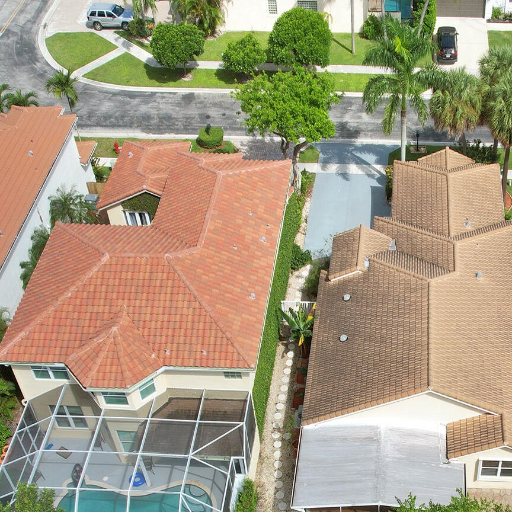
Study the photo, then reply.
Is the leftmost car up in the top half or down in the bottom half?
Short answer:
top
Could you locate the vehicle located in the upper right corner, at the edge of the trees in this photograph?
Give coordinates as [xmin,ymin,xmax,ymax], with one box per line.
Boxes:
[436,23,460,53]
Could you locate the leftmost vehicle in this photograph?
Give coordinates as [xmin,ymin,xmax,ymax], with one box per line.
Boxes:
[82,1,137,31]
